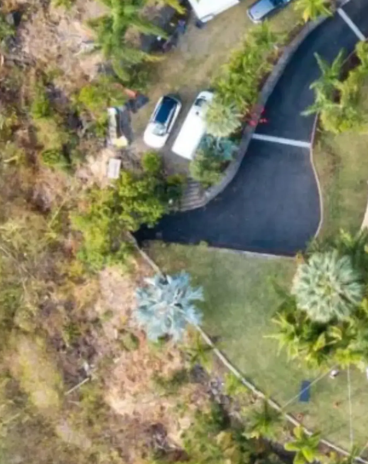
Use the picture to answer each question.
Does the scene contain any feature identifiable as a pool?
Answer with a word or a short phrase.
No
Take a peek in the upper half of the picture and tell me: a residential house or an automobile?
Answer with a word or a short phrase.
automobile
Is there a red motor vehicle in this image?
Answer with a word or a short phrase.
No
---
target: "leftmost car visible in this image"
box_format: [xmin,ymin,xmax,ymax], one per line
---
[145,91,185,151]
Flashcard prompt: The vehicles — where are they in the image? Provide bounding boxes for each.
[184,0,253,25]
[242,0,295,27]
[145,91,185,151]
[169,88,222,163]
